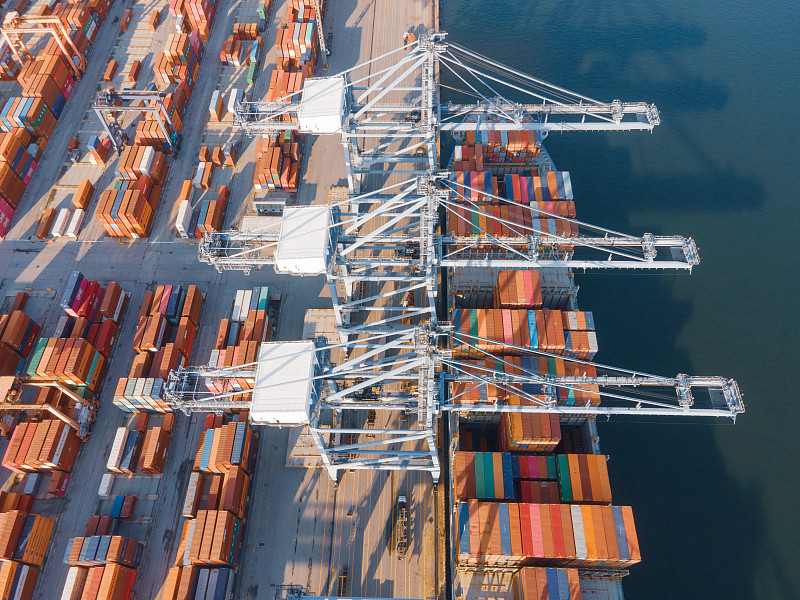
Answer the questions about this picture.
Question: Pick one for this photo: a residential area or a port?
port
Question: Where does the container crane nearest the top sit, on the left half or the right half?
left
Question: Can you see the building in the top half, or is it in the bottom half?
top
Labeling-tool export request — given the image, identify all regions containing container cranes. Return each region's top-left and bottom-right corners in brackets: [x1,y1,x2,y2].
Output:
[196,163,707,365]
[91,91,180,155]
[230,23,665,230]
[0,15,88,80]
[0,375,94,438]
[161,312,749,497]
[218,577,437,600]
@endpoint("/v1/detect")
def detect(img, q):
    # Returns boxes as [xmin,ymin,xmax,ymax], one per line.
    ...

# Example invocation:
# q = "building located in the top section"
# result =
[247,196,285,216]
